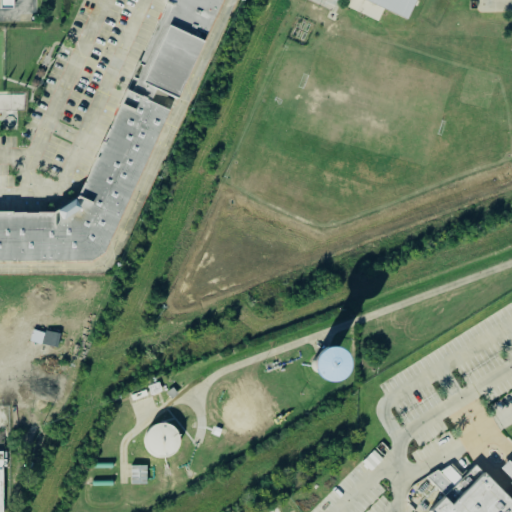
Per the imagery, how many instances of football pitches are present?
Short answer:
1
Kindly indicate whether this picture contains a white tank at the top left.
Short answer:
No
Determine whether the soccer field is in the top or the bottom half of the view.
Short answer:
top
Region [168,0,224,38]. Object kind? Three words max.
building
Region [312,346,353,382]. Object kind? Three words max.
water tower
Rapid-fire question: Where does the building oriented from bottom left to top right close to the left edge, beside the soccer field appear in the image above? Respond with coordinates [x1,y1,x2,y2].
[0,91,170,261]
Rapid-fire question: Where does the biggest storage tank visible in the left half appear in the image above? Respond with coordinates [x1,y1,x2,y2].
[143,422,181,460]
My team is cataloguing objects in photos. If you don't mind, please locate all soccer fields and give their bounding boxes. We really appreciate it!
[226,26,507,223]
